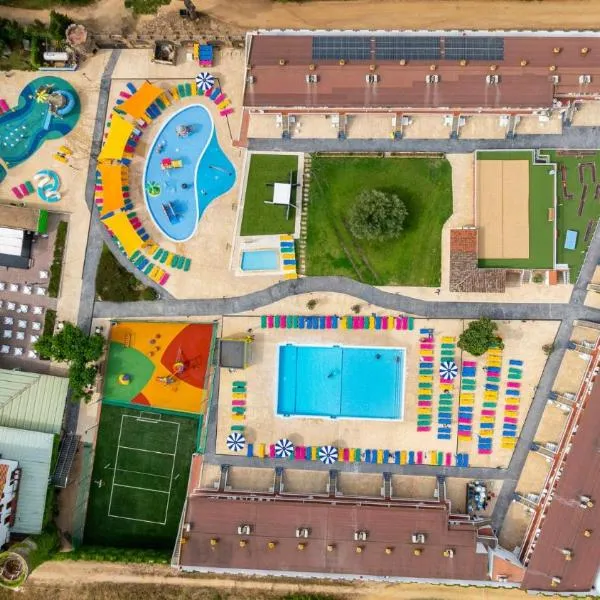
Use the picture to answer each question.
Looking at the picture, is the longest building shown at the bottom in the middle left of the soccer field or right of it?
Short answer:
on its right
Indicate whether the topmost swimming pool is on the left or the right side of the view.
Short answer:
left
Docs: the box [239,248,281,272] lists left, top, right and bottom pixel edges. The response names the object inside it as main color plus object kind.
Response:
blue swimming pool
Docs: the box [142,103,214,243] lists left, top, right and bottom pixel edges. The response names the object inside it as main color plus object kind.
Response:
blue swimming pool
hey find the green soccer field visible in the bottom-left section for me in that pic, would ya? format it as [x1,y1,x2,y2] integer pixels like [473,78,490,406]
[84,410,203,550]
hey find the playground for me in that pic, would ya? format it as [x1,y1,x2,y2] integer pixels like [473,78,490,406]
[105,322,212,408]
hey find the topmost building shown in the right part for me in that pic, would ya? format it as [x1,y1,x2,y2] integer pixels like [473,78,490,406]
[243,31,600,115]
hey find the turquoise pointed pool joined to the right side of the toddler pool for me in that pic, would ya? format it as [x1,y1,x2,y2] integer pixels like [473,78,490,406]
[199,131,236,217]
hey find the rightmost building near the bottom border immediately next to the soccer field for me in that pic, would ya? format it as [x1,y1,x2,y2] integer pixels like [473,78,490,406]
[172,479,493,587]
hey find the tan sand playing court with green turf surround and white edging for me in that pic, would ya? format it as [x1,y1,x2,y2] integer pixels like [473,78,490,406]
[476,149,558,269]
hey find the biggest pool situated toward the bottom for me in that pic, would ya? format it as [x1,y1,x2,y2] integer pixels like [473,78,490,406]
[274,342,407,422]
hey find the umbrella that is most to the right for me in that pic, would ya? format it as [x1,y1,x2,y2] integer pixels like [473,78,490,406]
[439,362,457,379]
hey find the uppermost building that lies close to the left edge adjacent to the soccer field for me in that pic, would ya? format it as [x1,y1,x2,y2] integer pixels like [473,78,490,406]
[0,364,77,434]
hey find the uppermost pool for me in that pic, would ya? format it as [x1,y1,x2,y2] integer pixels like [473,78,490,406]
[0,76,80,169]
